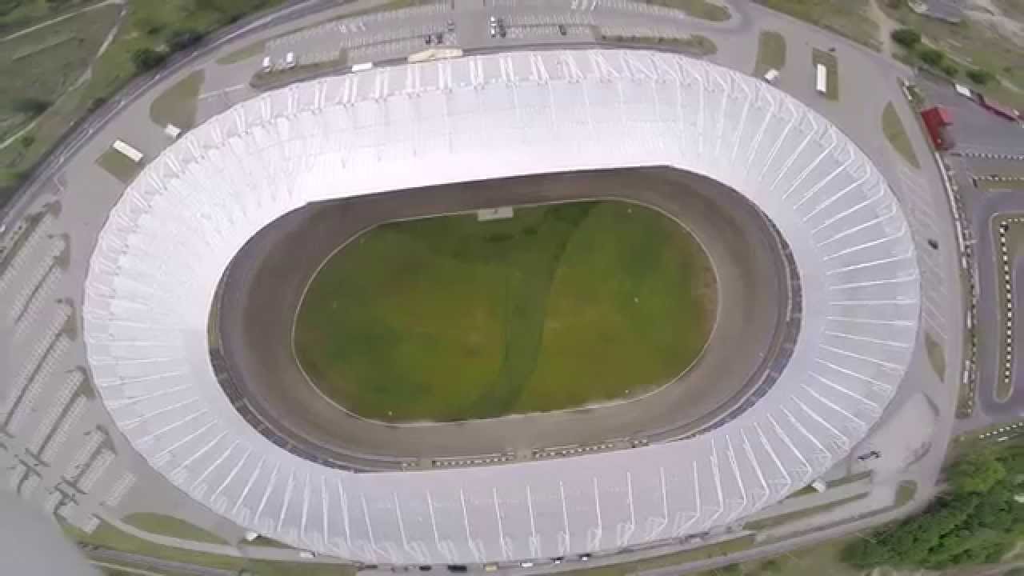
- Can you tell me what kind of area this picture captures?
sports ground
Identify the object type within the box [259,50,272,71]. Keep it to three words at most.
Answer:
vehicle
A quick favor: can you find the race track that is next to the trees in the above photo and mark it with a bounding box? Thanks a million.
[912,69,1024,418]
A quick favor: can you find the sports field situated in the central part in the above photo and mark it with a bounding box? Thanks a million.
[293,199,719,424]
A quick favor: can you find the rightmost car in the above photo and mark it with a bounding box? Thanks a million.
[928,238,942,250]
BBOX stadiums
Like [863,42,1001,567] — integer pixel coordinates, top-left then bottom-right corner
[79,46,925,568]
